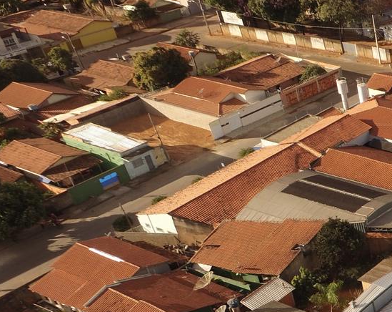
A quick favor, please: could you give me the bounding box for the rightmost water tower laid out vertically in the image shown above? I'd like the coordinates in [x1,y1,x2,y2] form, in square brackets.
[355,69,372,104]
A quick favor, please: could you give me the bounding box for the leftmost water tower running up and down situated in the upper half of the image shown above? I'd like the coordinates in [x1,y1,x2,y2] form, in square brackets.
[333,66,348,106]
